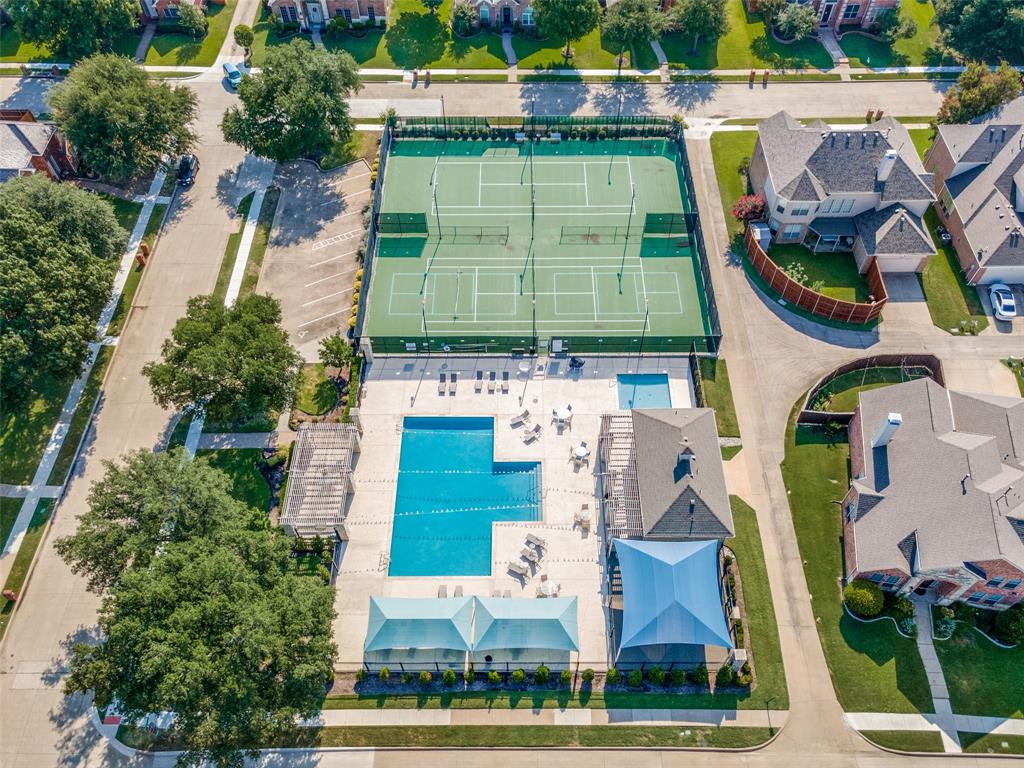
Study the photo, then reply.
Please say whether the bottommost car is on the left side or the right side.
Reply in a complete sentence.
The bottommost car is on the right side of the image.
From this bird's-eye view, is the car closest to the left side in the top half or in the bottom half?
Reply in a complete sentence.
Seen from above, the car closest to the left side lies in the top half of the view.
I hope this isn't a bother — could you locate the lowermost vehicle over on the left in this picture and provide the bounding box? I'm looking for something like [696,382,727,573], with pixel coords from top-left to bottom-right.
[175,153,200,185]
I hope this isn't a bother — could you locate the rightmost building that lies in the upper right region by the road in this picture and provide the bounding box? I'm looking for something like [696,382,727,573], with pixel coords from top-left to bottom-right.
[924,95,1024,290]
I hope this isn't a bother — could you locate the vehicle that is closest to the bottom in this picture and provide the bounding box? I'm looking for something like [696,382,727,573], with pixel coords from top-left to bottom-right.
[986,285,1020,319]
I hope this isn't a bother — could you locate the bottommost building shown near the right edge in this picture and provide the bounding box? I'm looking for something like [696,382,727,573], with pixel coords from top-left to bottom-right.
[842,377,1024,616]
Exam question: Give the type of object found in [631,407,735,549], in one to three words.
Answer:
building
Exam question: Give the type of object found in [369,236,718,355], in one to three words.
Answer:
tennis court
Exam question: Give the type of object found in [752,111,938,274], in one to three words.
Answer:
house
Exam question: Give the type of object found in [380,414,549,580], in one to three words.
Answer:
swimming pool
